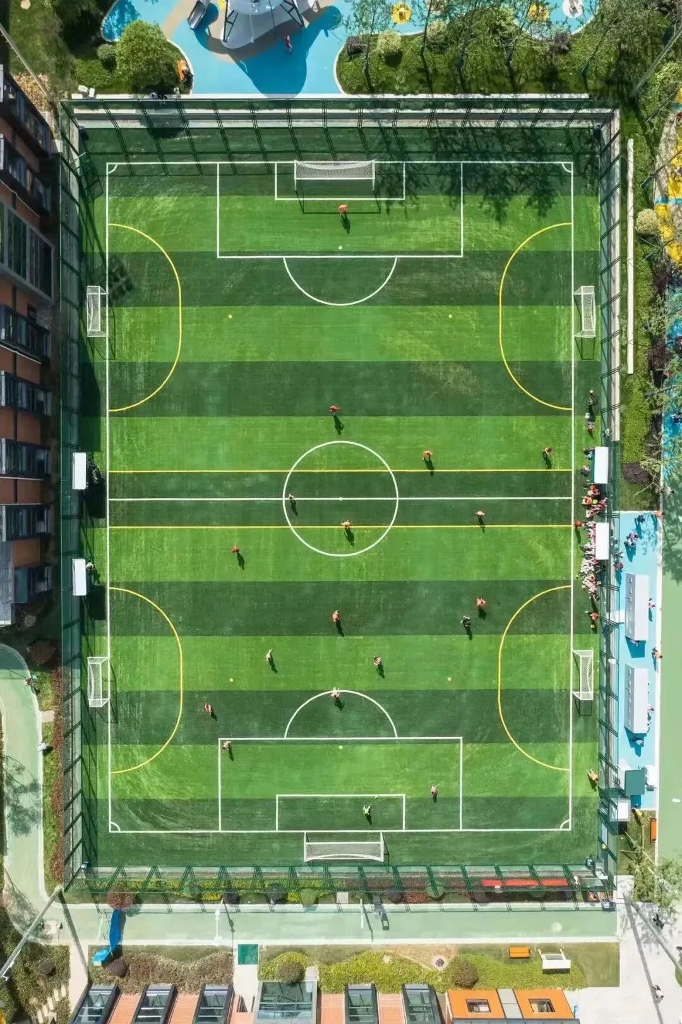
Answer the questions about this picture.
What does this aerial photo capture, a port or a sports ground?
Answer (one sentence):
It's a sports ground.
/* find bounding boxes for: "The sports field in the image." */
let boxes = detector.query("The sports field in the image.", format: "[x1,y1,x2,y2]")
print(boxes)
[82,129,600,867]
